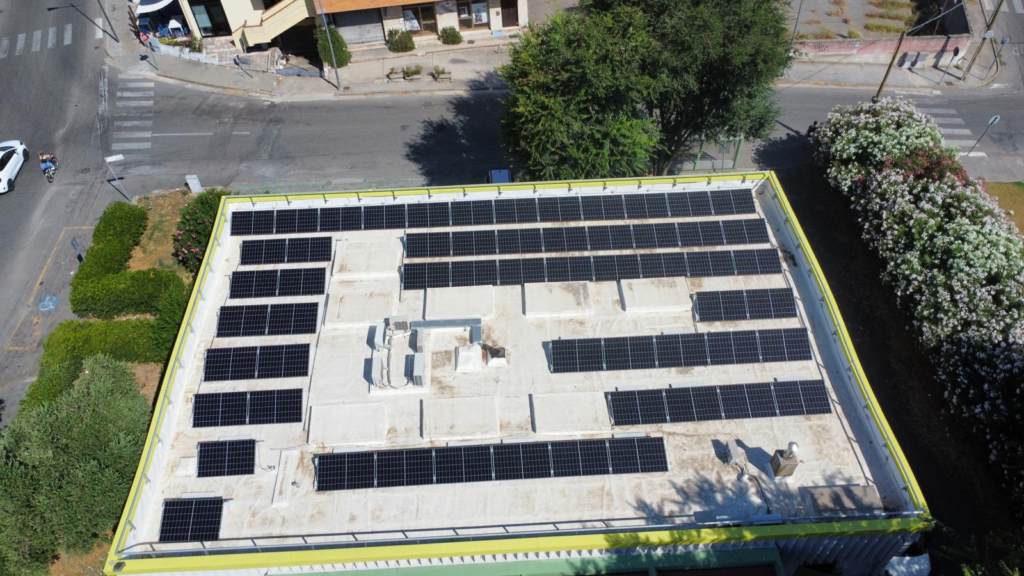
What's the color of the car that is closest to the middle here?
black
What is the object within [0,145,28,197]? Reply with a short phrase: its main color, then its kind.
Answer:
white car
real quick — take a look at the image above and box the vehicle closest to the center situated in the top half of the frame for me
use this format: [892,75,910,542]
[485,152,517,184]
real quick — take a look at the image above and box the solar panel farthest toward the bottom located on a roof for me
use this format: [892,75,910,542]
[158,496,230,543]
